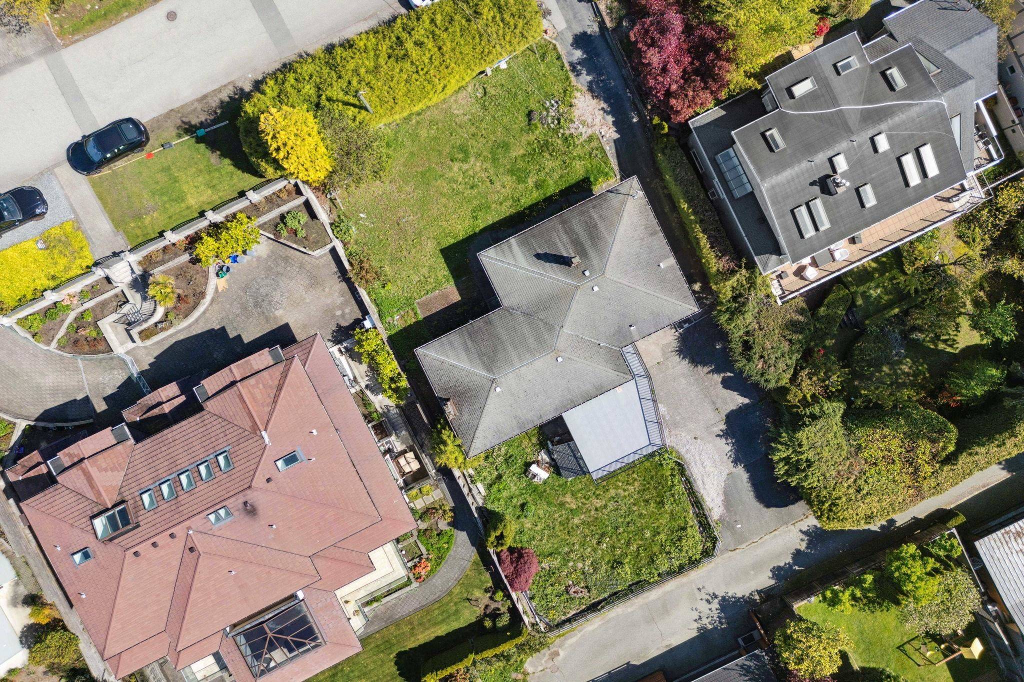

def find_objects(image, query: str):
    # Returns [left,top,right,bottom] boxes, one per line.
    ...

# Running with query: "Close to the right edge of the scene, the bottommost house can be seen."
[963,513,1024,663]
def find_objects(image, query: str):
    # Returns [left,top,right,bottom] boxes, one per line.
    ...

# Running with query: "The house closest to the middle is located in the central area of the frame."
[413,174,703,461]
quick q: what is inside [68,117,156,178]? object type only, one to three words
car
